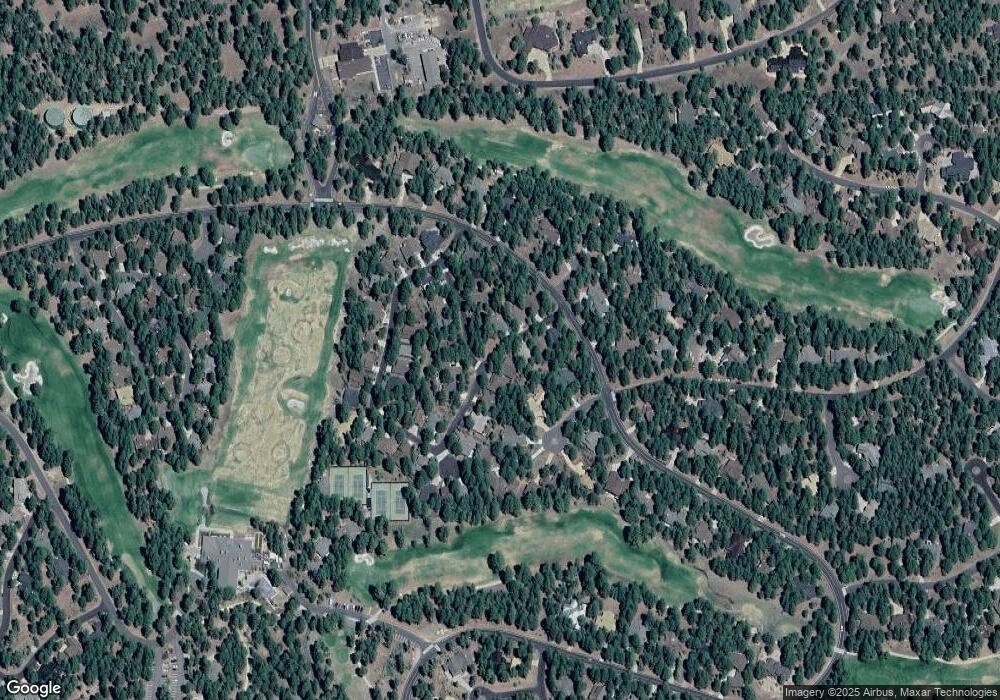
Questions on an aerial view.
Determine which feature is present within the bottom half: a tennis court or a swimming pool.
tennis court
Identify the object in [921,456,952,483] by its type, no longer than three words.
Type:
house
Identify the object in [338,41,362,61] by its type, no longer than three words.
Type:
building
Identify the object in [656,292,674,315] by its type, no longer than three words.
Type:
house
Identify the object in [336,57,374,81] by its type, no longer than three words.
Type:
building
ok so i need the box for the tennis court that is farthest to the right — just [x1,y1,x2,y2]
[372,481,408,520]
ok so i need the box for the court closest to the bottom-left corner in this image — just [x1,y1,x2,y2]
[330,466,366,504]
